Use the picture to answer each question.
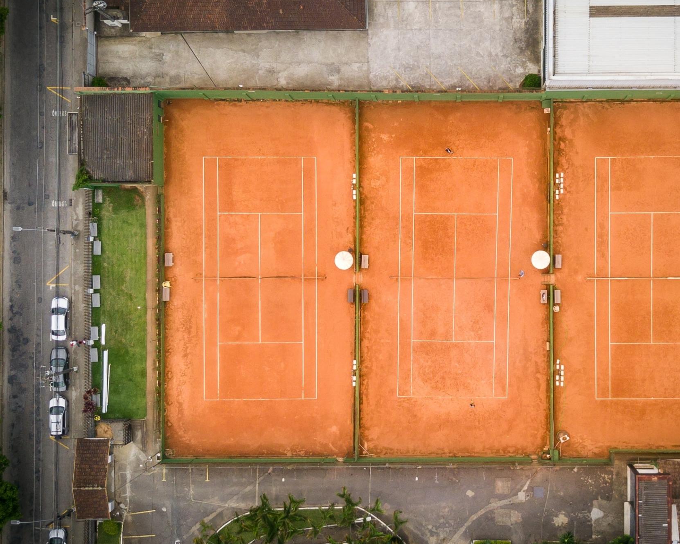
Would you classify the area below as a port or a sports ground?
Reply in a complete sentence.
The area seen from above is a sports ground.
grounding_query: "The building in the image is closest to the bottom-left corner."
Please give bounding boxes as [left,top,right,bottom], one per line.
[72,438,117,520]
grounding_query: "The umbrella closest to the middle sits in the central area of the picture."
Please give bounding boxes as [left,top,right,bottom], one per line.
[334,252,354,270]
